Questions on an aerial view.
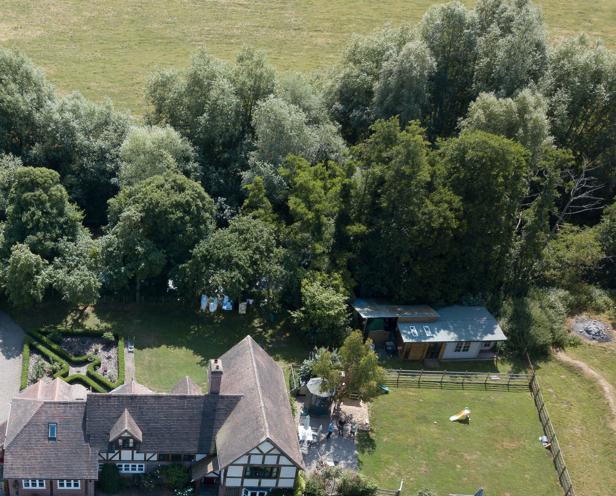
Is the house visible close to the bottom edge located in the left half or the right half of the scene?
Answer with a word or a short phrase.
left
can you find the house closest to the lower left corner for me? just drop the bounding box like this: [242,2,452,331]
[0,334,307,496]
